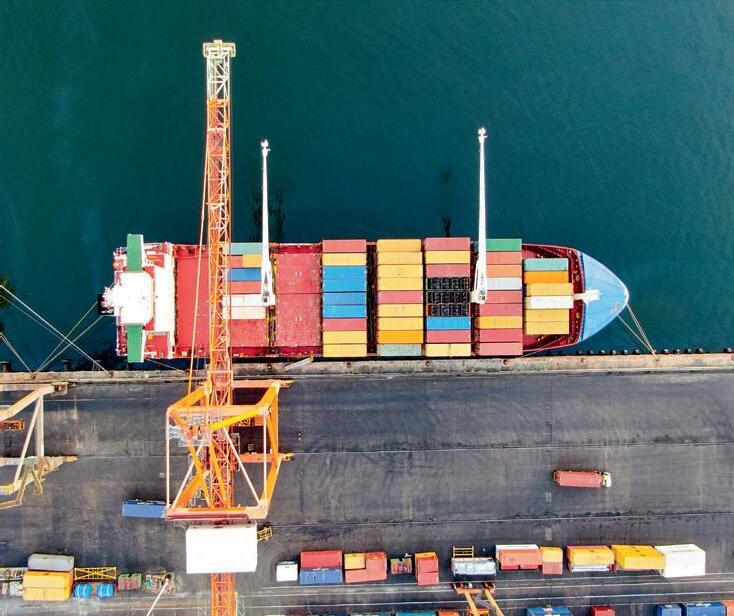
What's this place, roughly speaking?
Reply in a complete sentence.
It's a port.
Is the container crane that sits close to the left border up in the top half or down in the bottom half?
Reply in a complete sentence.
The bottom half of the photo is where the container crane that sits close to the left border is.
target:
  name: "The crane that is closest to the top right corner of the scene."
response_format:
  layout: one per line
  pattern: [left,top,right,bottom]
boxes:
[463,123,487,301]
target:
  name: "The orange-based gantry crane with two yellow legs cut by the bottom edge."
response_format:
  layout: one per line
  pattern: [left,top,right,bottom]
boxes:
[454,580,510,616]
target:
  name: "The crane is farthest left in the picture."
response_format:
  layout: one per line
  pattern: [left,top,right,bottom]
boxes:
[0,382,80,508]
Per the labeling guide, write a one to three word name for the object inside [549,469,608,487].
vehicle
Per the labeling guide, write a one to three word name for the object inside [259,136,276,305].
crane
